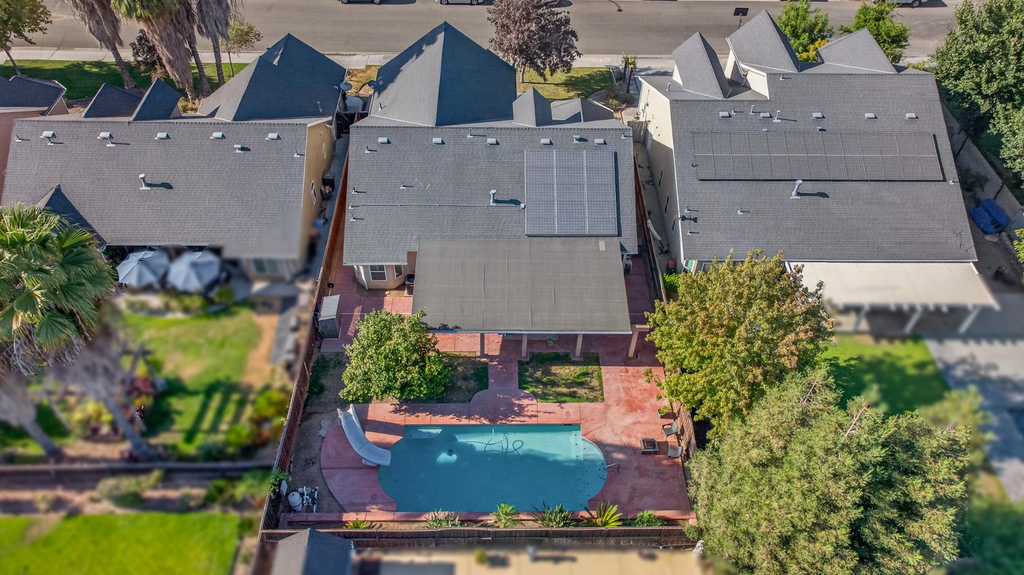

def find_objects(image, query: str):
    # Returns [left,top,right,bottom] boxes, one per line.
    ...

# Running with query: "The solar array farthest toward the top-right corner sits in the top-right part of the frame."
[692,132,942,181]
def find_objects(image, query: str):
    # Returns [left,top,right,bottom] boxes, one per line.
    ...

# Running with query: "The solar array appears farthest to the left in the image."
[524,148,619,235]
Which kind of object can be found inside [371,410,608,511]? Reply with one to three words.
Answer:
swimming pool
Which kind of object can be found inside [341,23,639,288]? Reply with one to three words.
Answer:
house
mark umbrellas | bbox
[117,249,173,305]
[166,254,223,306]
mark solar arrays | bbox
[692,132,942,181]
[524,148,619,235]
